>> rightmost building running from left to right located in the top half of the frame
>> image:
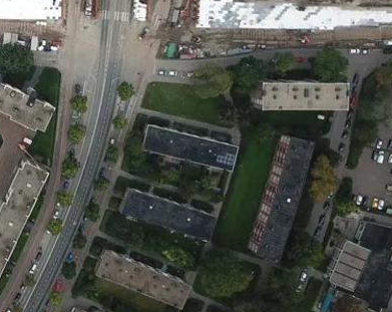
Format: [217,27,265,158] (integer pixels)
[250,77,349,111]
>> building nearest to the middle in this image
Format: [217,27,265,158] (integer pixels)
[139,120,239,171]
